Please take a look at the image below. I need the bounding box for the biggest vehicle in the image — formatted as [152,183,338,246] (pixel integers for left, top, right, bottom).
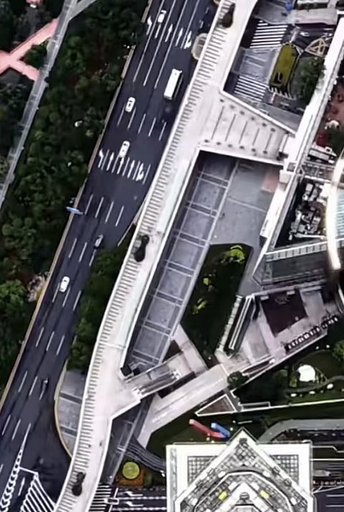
[165,70,182,107]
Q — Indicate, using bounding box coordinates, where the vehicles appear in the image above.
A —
[59,276,70,293]
[156,9,166,27]
[94,233,104,250]
[165,70,182,107]
[196,15,206,33]
[120,142,129,160]
[39,376,50,392]
[125,97,135,115]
